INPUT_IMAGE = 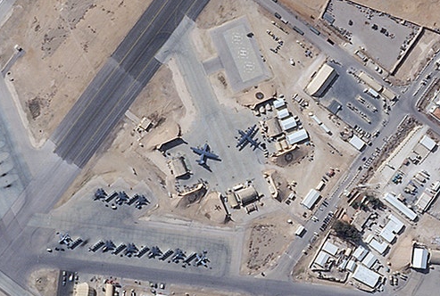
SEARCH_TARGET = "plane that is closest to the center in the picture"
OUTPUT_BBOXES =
[193,145,218,166]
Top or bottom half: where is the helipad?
top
